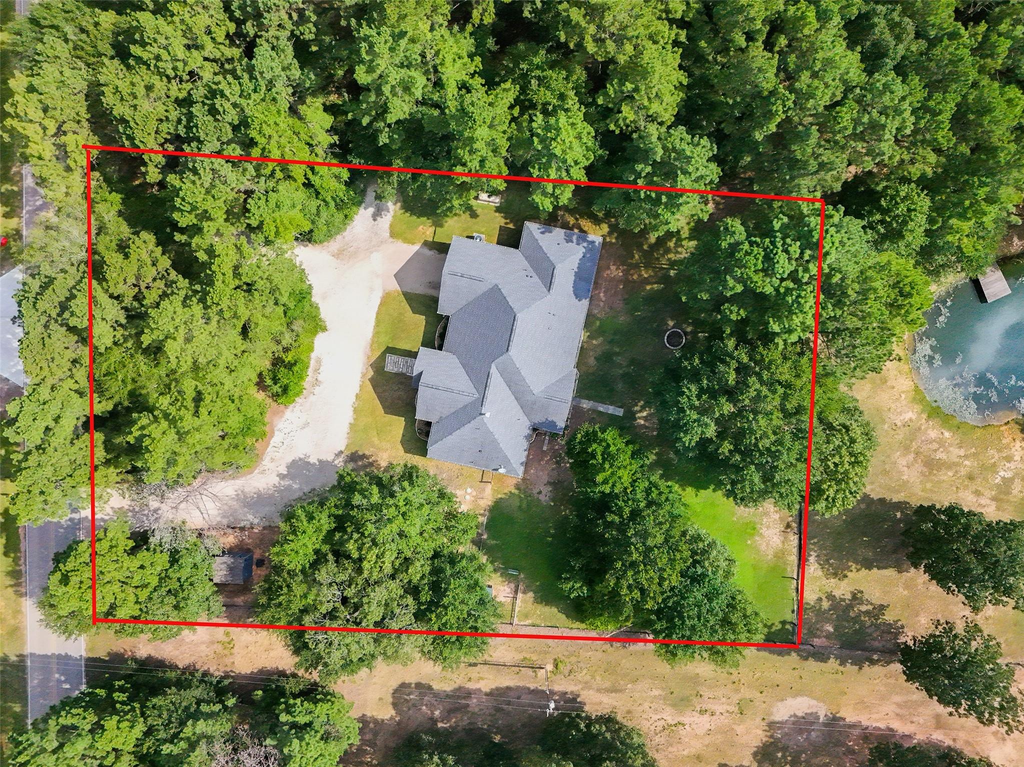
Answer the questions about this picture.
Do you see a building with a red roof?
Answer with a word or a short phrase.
No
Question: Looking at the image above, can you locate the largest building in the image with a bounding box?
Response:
[411,221,602,478]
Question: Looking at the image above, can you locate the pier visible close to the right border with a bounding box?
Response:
[971,261,1012,303]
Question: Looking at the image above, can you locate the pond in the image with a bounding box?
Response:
[913,261,1024,424]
